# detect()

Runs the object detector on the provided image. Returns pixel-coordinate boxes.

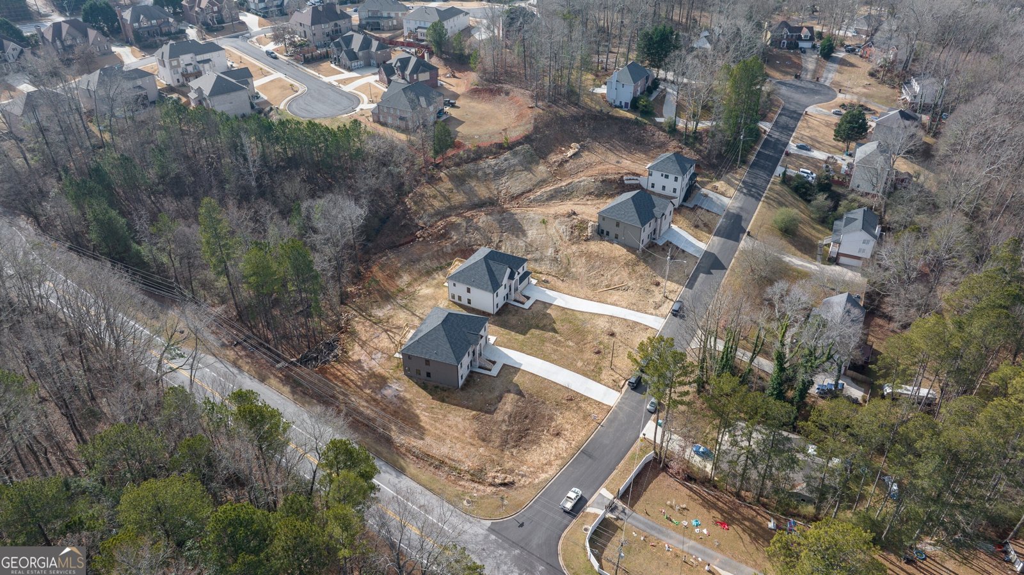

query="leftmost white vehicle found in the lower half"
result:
[558,488,580,511]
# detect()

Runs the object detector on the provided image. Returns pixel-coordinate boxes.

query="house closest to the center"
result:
[445,246,538,315]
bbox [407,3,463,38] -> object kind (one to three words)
house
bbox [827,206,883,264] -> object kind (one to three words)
house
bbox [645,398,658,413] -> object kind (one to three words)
vehicle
